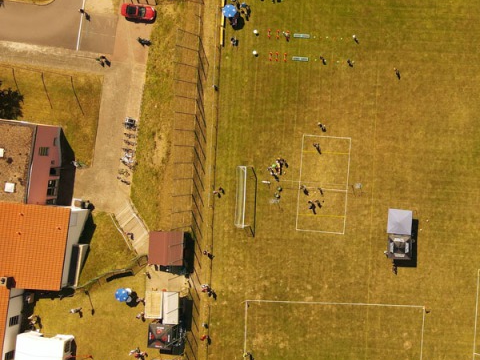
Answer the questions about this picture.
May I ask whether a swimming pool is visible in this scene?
No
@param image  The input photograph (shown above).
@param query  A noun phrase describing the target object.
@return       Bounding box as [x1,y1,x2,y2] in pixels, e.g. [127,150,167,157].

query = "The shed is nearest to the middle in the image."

[146,233,187,268]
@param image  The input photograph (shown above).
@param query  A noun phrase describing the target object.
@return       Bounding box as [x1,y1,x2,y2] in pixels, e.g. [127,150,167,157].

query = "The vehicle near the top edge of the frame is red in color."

[123,5,156,22]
